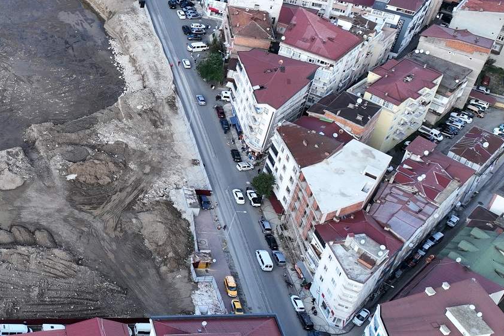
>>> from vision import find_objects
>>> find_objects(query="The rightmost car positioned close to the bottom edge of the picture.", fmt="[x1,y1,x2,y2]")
[354,307,371,325]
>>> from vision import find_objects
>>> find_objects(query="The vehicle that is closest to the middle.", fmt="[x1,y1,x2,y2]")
[236,159,255,172]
